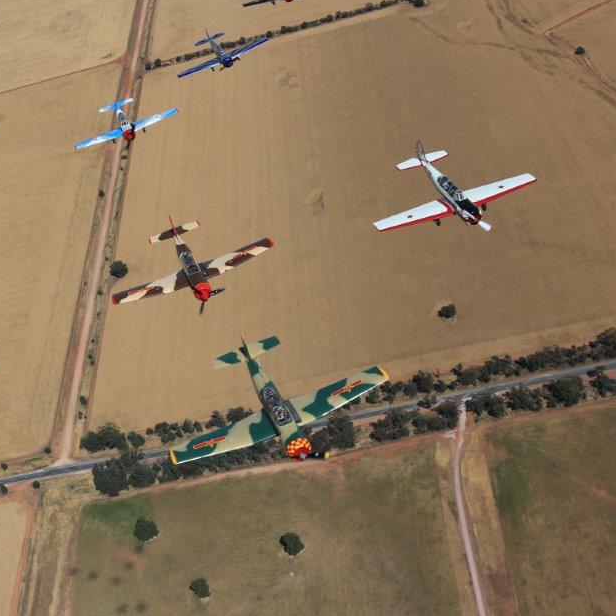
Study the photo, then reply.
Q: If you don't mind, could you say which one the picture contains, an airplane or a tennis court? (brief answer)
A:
airplane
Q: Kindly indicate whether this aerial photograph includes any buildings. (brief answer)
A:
No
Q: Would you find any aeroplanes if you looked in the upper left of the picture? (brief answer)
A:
Yes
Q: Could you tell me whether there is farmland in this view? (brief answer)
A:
Yes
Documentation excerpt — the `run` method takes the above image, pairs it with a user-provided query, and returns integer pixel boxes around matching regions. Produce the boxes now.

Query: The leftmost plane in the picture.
[75,94,177,148]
